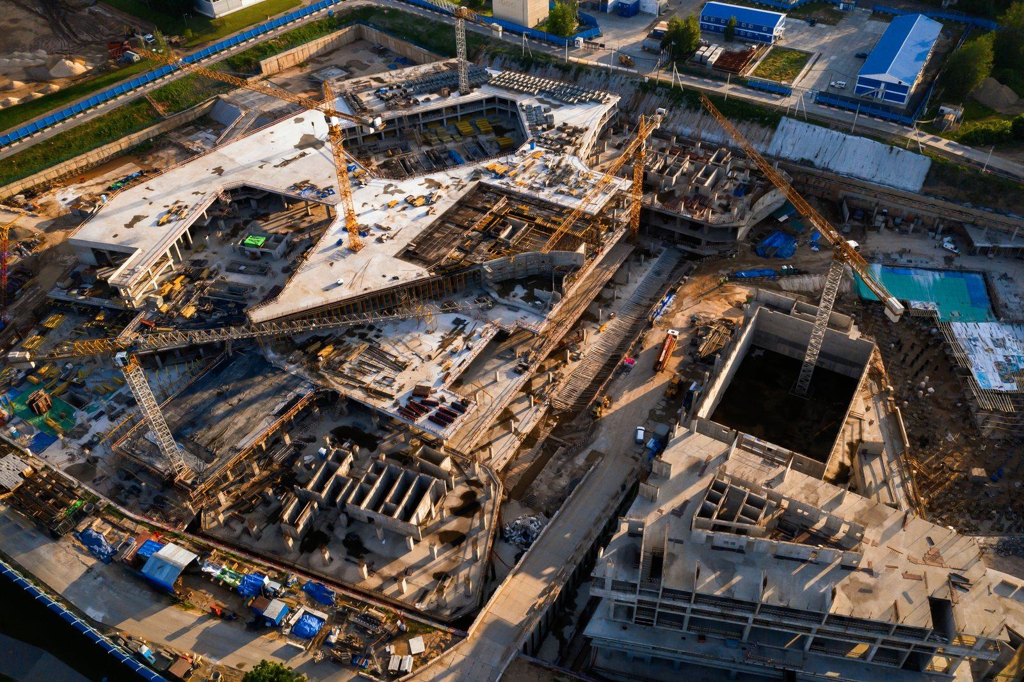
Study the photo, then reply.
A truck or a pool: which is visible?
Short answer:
truck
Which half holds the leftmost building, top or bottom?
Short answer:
bottom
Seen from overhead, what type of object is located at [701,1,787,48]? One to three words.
building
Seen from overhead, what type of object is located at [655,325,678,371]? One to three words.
truck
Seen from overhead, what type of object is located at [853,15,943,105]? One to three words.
building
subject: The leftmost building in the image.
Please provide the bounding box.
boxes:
[0,458,87,536]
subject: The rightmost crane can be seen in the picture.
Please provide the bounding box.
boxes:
[699,94,899,394]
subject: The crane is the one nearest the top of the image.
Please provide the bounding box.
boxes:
[415,0,493,97]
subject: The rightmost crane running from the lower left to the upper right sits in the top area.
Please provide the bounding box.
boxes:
[543,117,661,251]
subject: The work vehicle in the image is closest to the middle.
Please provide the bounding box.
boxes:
[591,391,613,413]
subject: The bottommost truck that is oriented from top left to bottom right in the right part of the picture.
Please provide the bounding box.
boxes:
[643,422,668,452]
